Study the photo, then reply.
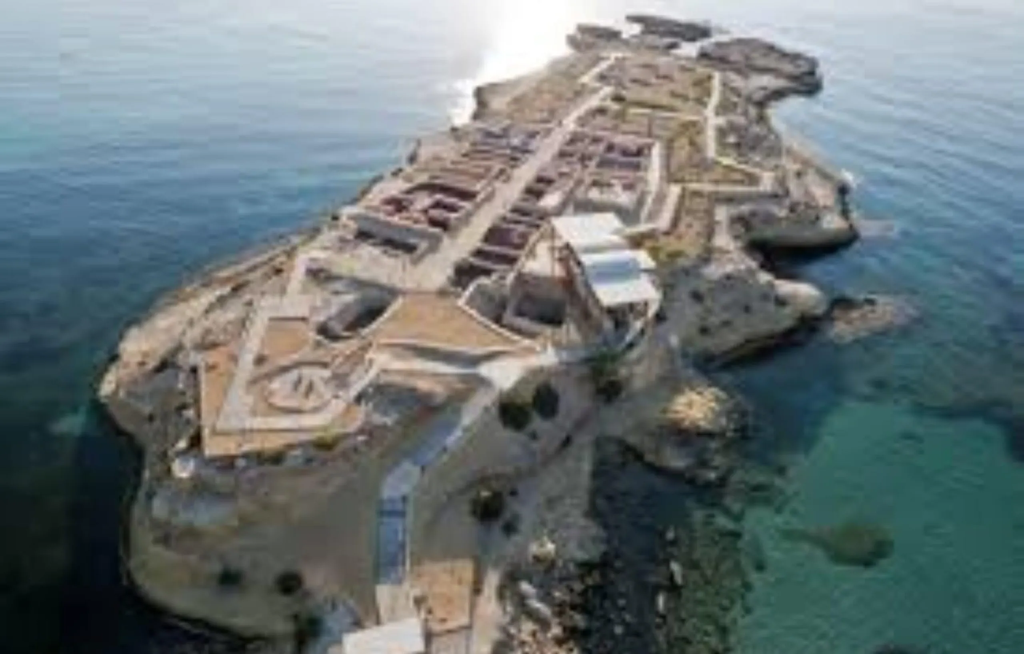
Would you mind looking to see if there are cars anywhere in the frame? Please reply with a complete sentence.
No, no car is visible in the scene.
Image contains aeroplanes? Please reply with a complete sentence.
No, I find no aeroplane anywhere in the image.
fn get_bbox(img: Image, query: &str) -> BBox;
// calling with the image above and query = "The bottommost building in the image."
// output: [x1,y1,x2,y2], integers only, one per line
[341,617,425,654]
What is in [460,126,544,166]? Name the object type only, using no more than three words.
building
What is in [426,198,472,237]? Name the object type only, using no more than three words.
building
